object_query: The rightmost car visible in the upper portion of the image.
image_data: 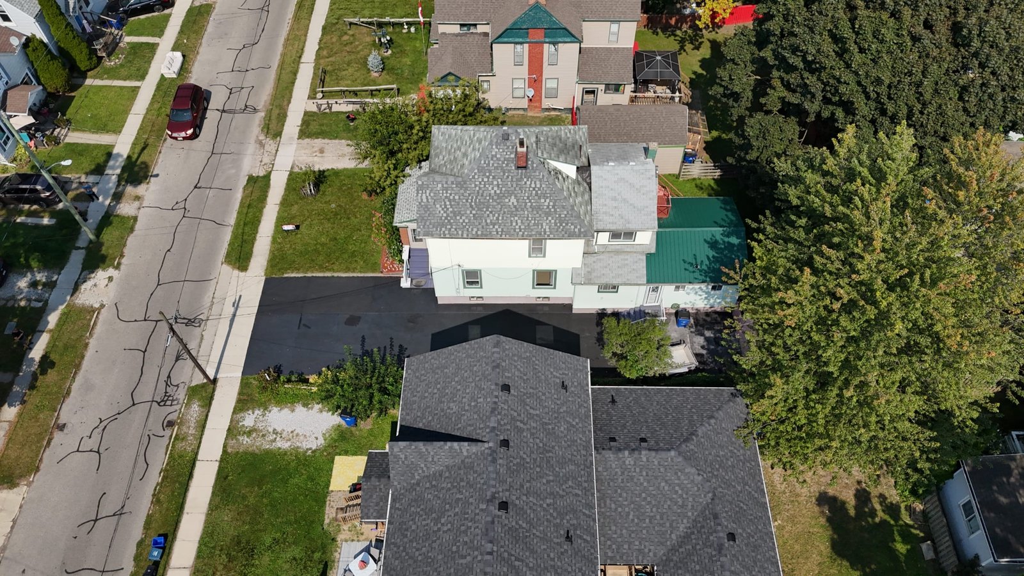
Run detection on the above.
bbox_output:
[166,84,207,138]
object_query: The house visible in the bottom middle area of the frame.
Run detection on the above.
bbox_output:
[359,336,774,576]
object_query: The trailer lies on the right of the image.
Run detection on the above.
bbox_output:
[633,341,699,378]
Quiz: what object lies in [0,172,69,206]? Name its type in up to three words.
car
